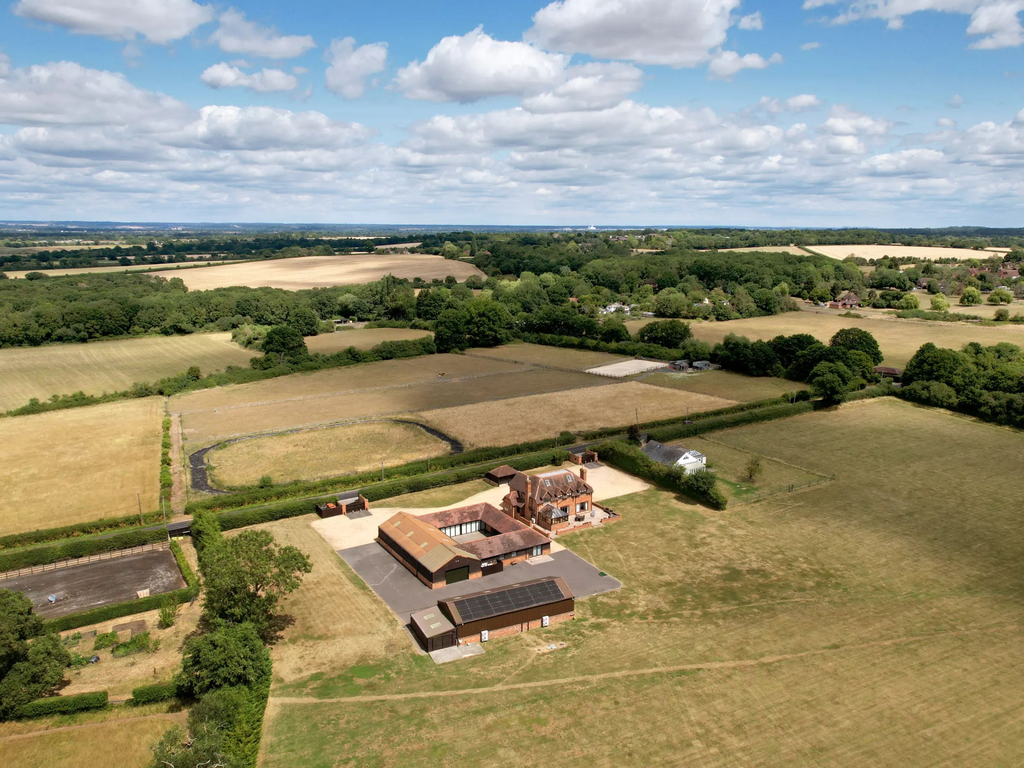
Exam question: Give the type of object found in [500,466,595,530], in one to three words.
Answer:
house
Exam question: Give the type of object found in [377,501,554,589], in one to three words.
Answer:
barn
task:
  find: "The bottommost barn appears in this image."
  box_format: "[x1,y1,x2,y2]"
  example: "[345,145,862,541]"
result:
[407,573,579,652]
